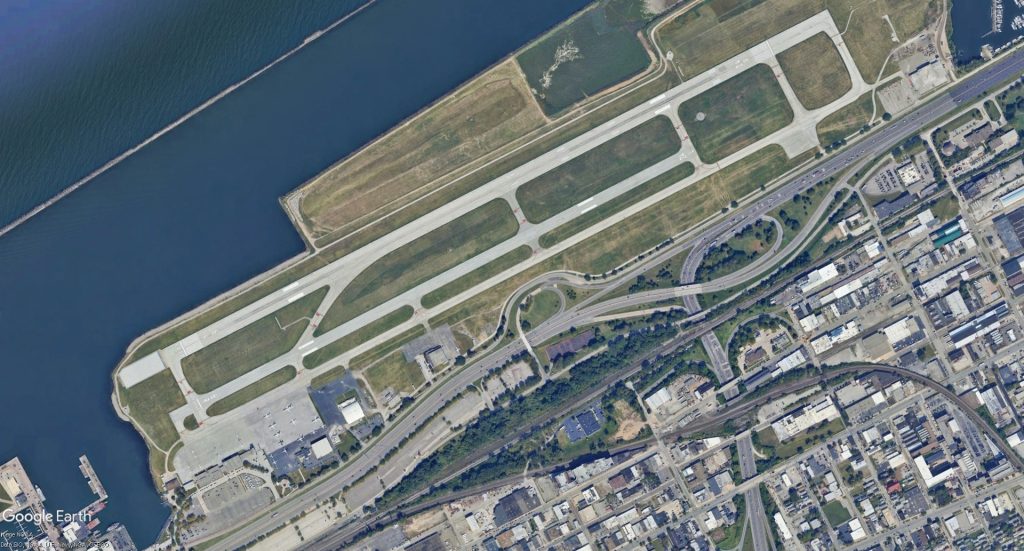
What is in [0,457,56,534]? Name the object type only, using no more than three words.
pier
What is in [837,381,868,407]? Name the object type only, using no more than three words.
building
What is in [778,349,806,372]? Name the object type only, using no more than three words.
building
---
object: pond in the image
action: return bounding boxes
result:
[517,0,681,116]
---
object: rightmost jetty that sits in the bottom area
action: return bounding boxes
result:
[75,455,108,517]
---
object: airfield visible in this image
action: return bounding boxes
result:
[118,10,902,483]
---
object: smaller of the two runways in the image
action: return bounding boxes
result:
[196,149,690,409]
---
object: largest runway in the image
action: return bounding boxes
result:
[159,10,836,365]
